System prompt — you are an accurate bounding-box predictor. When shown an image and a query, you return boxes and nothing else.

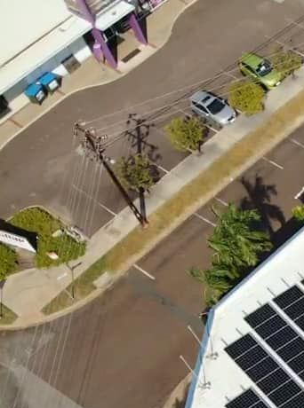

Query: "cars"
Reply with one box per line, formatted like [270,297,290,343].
[184,85,240,130]
[232,50,286,94]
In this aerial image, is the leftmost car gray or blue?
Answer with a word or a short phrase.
gray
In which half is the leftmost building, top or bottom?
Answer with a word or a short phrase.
top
